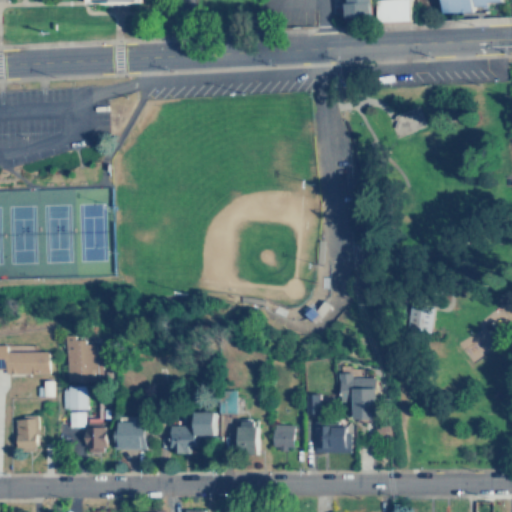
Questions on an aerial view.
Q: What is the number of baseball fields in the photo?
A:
1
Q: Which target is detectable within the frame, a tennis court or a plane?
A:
tennis court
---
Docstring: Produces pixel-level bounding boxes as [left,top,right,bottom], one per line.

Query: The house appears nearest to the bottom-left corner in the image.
[17,416,42,452]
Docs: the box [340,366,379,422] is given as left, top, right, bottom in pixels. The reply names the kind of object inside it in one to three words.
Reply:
house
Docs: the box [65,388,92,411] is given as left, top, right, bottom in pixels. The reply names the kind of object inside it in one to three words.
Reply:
barn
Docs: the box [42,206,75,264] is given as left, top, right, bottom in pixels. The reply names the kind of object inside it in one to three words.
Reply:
tennis court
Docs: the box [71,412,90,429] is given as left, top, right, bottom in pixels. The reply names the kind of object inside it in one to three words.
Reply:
building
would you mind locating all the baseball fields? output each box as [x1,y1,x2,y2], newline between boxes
[118,94,322,307]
